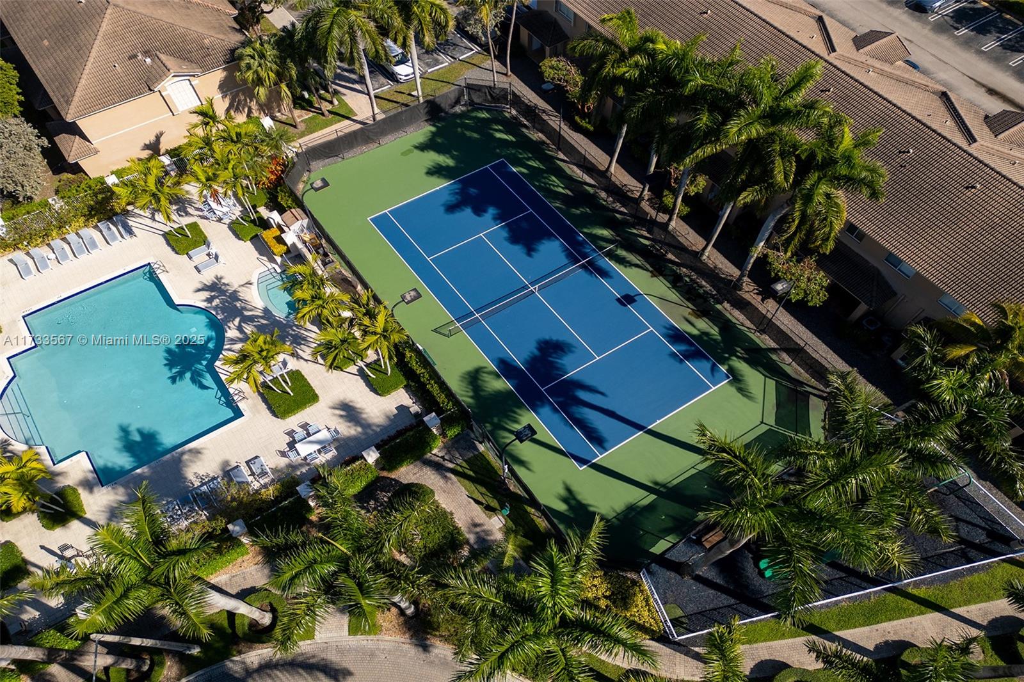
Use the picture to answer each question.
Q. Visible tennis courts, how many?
1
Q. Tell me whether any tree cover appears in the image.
Yes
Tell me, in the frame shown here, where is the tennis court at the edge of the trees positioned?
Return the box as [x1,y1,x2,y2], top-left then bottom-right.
[303,108,826,570]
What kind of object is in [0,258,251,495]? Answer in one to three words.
swimming pool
